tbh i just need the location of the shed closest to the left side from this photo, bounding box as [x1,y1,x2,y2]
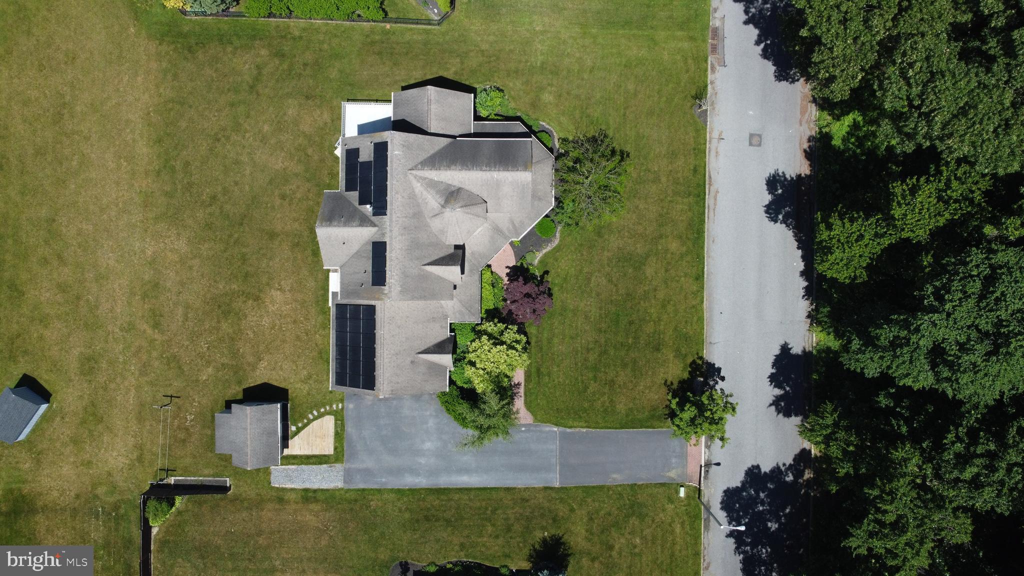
[0,383,51,444]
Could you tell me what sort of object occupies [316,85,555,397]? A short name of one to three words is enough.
house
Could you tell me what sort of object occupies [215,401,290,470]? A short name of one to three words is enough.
shed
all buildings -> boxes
[316,85,555,397]
[215,401,290,470]
[0,383,51,444]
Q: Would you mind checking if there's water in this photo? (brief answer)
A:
No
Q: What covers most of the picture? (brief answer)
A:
grass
